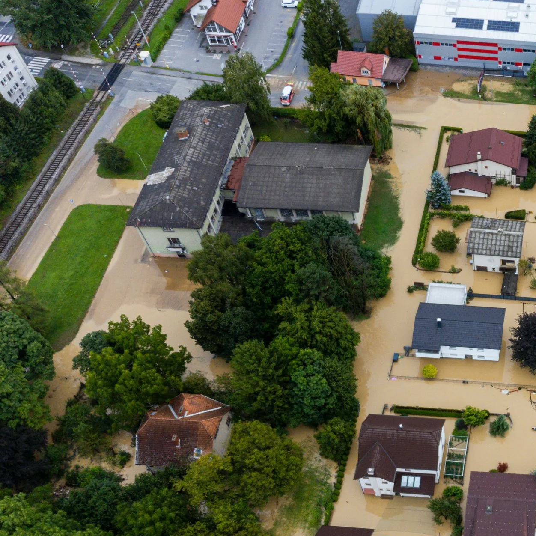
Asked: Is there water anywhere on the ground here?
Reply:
Yes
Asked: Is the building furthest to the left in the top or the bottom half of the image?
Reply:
top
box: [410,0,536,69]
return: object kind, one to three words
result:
building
